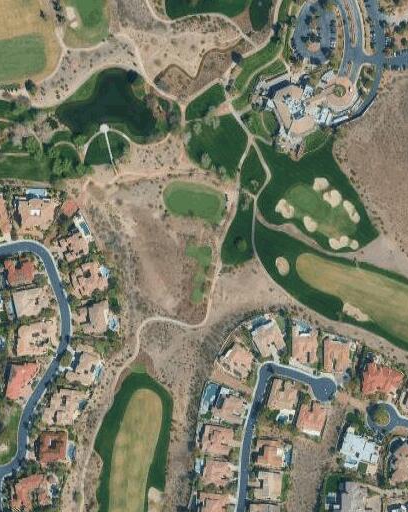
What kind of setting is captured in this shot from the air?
residential area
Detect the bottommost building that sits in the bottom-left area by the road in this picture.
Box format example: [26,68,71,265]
[10,469,55,512]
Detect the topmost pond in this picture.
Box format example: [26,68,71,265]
[58,67,156,147]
